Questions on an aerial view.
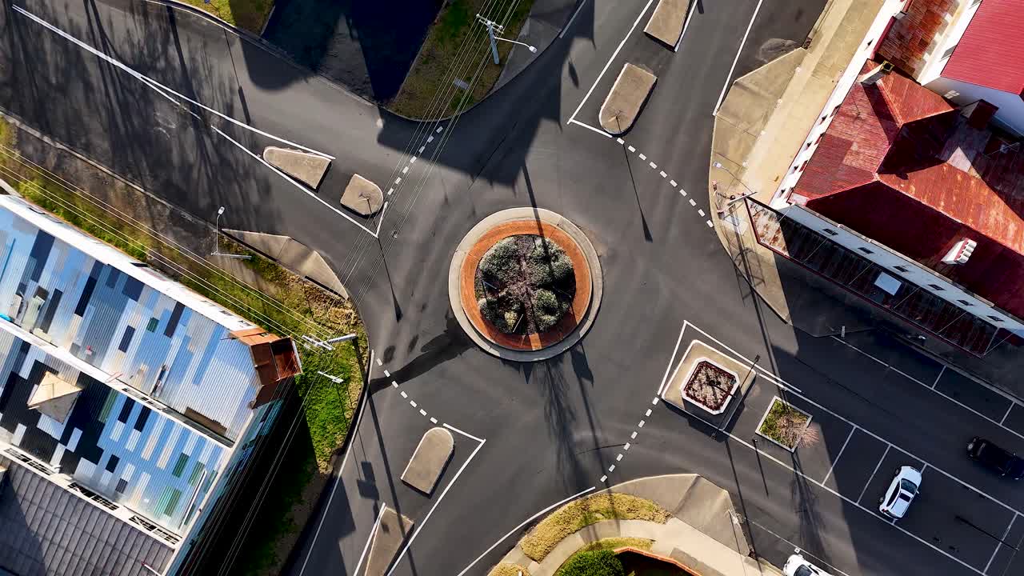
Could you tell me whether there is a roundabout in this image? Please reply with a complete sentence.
Yes, there is a roundabout in the image.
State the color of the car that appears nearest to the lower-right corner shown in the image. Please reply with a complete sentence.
The car that appears nearest to the lower-right corner is black.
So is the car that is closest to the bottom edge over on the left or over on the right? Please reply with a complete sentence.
The car that is closest to the bottom edge sits on the right side.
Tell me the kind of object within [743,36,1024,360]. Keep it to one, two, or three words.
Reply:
building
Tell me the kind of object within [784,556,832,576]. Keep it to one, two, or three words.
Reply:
car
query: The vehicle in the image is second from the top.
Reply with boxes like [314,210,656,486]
[878,464,920,518]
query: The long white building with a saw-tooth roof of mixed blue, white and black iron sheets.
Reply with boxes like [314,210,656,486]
[0,181,303,576]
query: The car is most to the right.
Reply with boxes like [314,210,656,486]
[968,438,1024,480]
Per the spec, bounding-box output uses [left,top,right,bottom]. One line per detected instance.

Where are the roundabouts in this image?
[448,207,603,362]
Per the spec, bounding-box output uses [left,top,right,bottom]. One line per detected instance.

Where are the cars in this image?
[878,464,920,518]
[784,556,832,576]
[968,438,1024,480]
